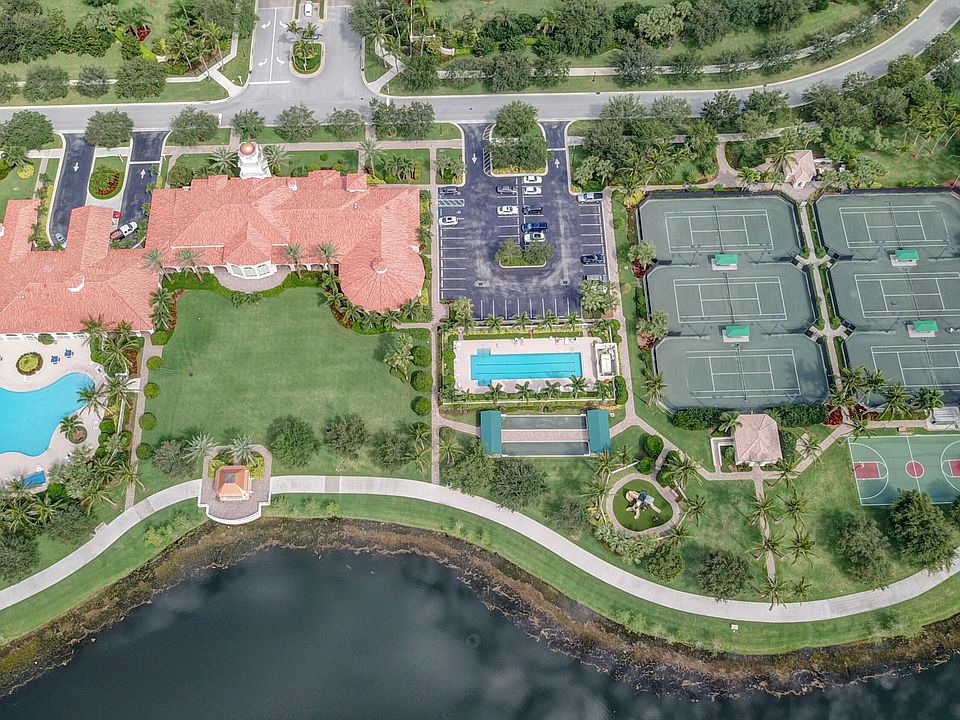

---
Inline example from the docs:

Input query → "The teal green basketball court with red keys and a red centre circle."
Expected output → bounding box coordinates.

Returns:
[848,432,960,506]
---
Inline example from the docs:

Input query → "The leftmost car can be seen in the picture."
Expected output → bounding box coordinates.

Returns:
[52,229,66,246]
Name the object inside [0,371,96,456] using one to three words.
swimming pool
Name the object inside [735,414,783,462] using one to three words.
building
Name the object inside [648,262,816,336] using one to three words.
tennis court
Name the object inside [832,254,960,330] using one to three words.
tennis court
